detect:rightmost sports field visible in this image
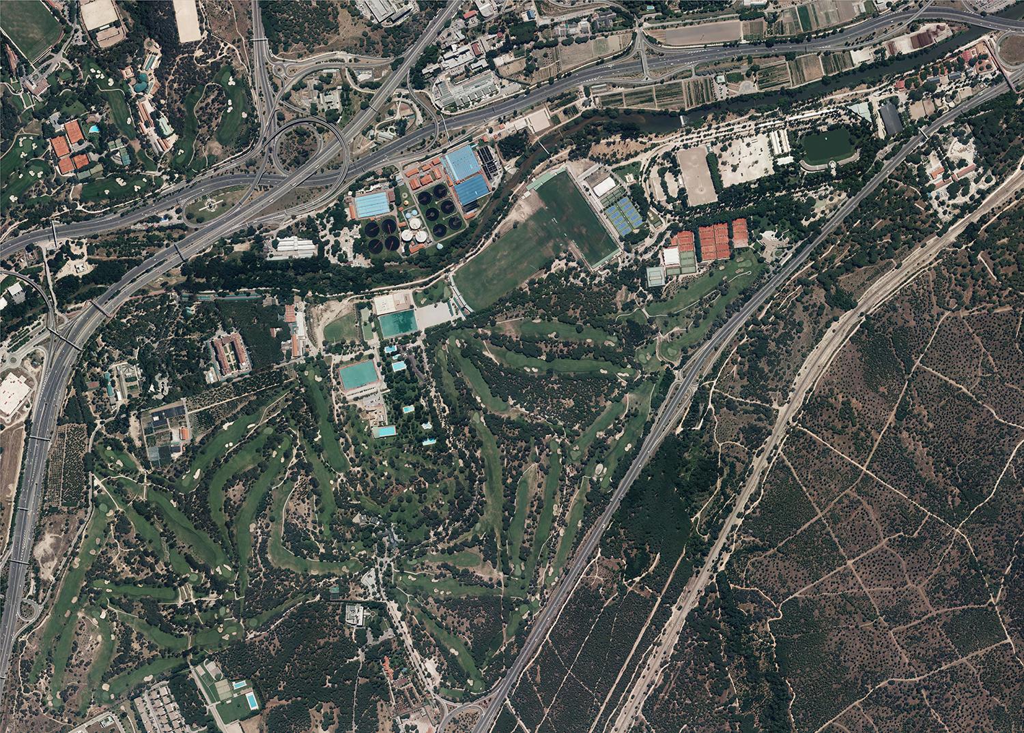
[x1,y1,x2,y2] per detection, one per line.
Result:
[452,170,619,311]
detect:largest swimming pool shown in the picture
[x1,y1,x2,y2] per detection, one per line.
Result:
[372,426,397,438]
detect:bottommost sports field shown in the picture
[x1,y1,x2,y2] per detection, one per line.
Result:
[338,359,381,392]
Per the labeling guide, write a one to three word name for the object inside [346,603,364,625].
building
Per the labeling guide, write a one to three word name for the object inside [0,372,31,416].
building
